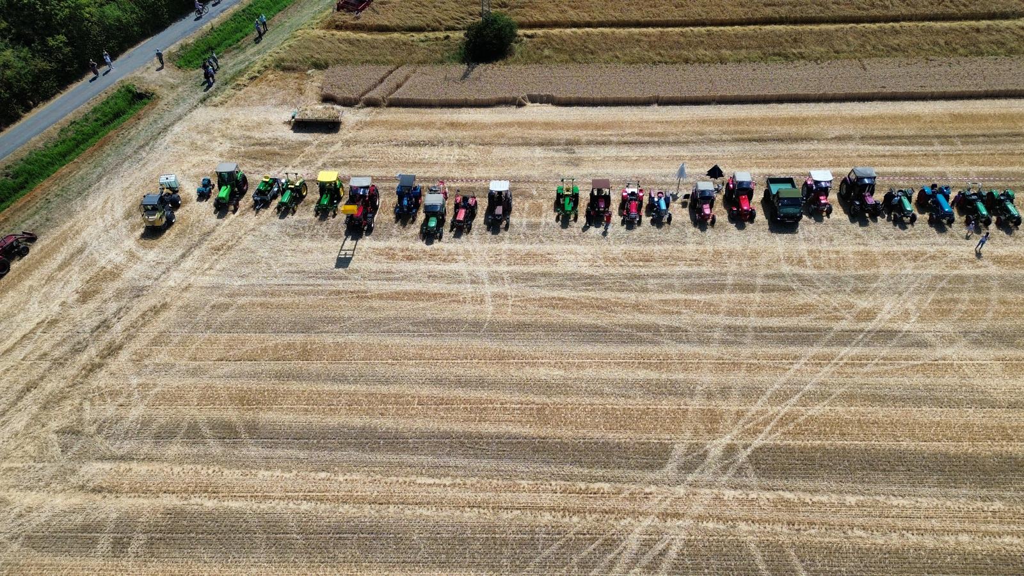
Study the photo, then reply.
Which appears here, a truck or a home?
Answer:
truck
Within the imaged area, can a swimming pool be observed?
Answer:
No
